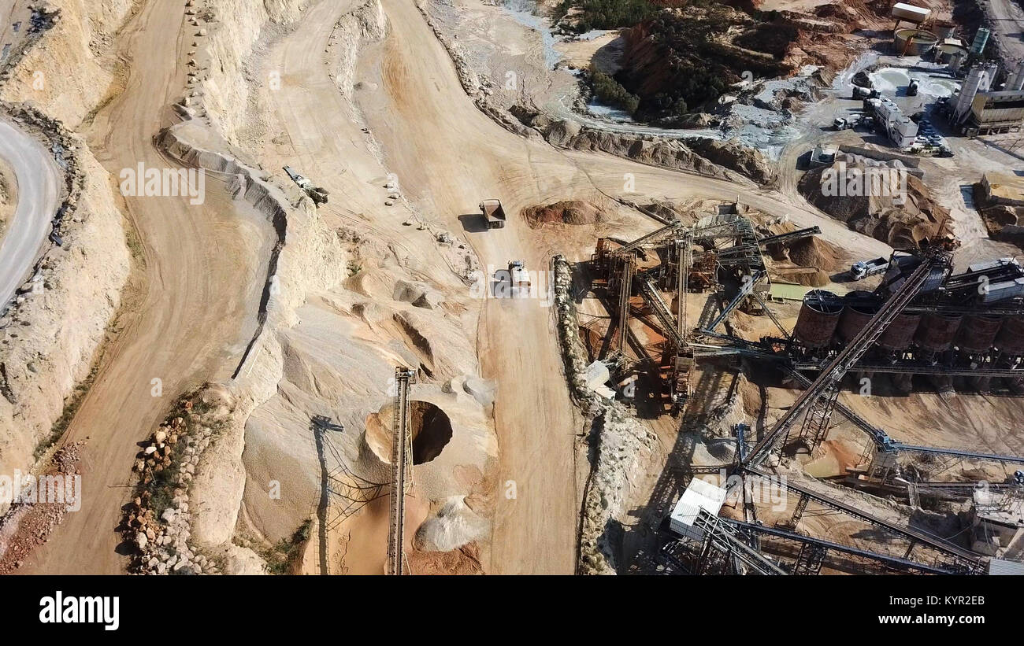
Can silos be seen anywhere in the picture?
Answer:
Yes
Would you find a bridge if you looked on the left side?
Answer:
No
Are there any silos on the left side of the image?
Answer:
No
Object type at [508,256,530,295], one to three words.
truck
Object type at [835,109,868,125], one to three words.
vehicle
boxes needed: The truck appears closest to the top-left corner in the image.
[482,194,508,231]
